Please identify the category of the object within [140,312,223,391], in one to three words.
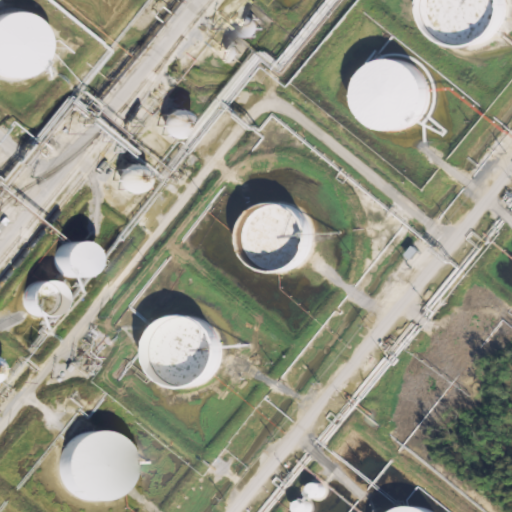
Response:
storage tank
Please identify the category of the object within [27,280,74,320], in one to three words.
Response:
storage tank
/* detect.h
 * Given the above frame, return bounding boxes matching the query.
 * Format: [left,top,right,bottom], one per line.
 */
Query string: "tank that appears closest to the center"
[233,199,315,276]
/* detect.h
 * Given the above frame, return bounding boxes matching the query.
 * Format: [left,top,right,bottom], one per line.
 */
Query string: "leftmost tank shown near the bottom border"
[60,428,140,504]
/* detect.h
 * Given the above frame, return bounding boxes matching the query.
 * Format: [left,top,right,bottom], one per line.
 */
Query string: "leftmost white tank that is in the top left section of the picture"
[0,10,56,85]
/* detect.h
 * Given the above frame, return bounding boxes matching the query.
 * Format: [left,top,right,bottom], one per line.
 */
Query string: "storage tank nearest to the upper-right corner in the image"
[414,0,508,50]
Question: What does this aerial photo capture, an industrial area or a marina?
industrial area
